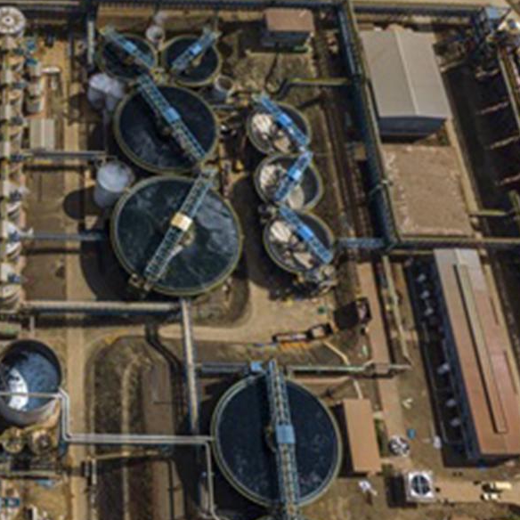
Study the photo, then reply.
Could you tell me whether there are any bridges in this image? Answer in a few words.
Yes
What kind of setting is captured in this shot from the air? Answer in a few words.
industrial area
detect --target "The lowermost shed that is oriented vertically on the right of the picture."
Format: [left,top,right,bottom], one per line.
[337,400,383,474]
